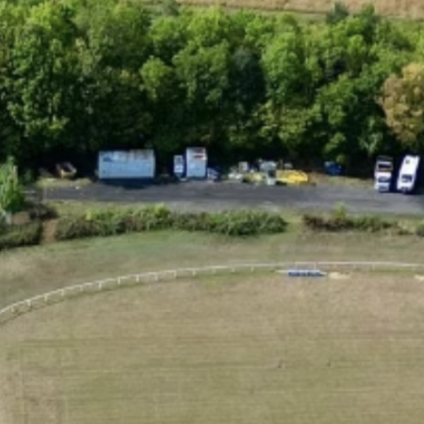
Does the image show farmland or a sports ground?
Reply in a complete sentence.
The picture captures a sports ground.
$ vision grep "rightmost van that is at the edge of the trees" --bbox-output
[396,152,424,189]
